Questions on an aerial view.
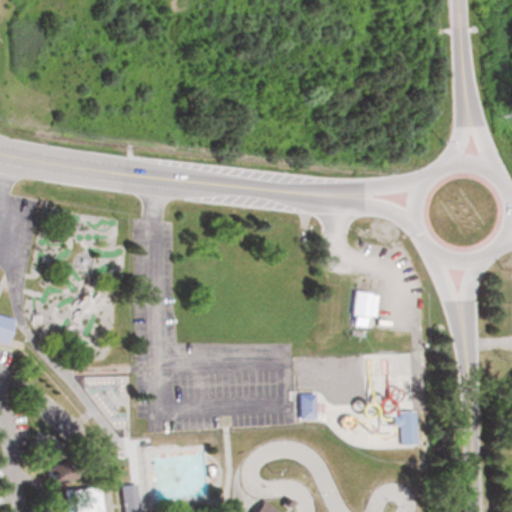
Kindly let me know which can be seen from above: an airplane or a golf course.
golf course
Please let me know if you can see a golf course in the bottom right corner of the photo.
No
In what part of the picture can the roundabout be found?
right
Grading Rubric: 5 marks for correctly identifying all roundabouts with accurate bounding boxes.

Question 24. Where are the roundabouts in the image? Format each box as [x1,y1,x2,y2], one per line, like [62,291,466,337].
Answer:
[365,125,512,302]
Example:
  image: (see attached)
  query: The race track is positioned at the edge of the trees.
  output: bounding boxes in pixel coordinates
[240,438,420,512]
